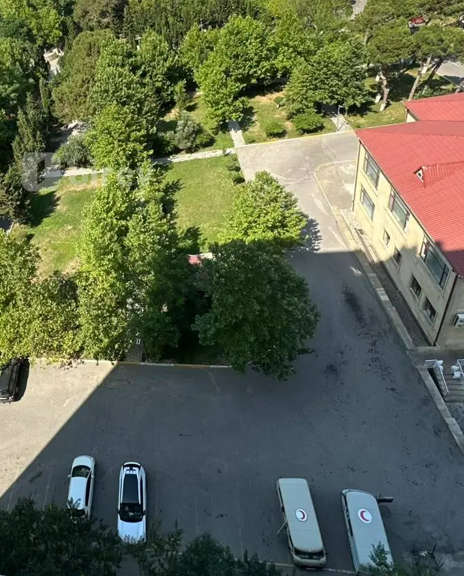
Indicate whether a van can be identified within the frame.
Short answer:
Yes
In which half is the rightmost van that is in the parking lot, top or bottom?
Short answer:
bottom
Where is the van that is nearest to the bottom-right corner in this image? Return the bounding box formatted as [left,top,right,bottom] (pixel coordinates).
[340,482,403,576]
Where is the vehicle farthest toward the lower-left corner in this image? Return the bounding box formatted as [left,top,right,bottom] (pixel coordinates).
[65,460,95,524]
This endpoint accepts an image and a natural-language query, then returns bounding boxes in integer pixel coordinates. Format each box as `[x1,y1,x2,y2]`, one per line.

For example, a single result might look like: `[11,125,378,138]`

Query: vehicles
[0,358,24,406]
[65,460,95,524]
[115,464,146,543]
[279,471,333,570]
[340,482,403,576]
